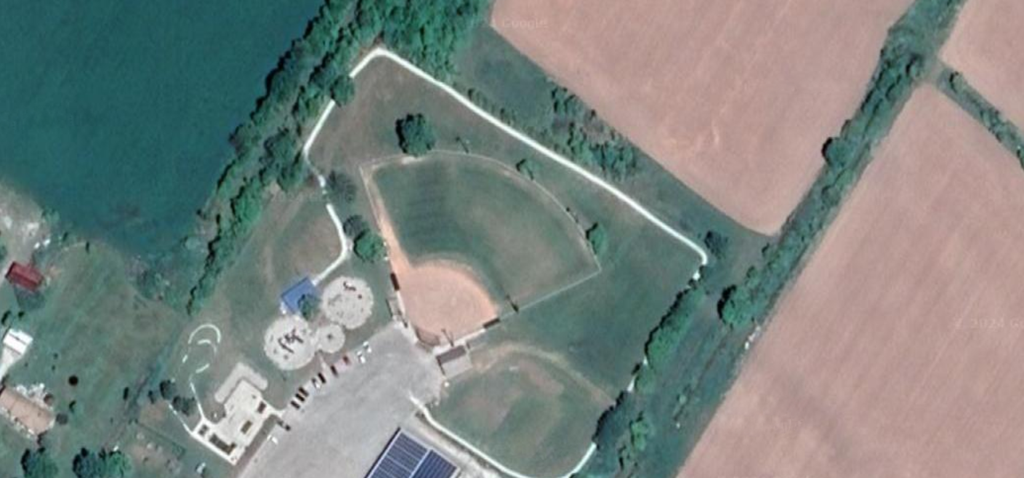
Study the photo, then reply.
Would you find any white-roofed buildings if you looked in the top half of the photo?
No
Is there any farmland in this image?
Yes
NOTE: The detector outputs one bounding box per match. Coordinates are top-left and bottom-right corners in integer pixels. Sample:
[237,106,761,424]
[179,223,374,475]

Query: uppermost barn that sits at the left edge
[6,261,43,293]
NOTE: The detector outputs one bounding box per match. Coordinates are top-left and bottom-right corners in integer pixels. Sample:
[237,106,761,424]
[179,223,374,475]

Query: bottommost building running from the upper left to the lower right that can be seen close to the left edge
[0,385,55,434]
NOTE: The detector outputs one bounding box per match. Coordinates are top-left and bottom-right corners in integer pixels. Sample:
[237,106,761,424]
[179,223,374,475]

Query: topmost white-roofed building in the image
[2,329,32,356]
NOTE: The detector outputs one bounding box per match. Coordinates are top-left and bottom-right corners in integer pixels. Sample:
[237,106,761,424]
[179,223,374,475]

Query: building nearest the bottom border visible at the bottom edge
[369,431,460,478]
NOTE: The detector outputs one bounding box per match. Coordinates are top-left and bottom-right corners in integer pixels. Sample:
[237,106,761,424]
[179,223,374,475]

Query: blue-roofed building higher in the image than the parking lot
[281,277,320,315]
